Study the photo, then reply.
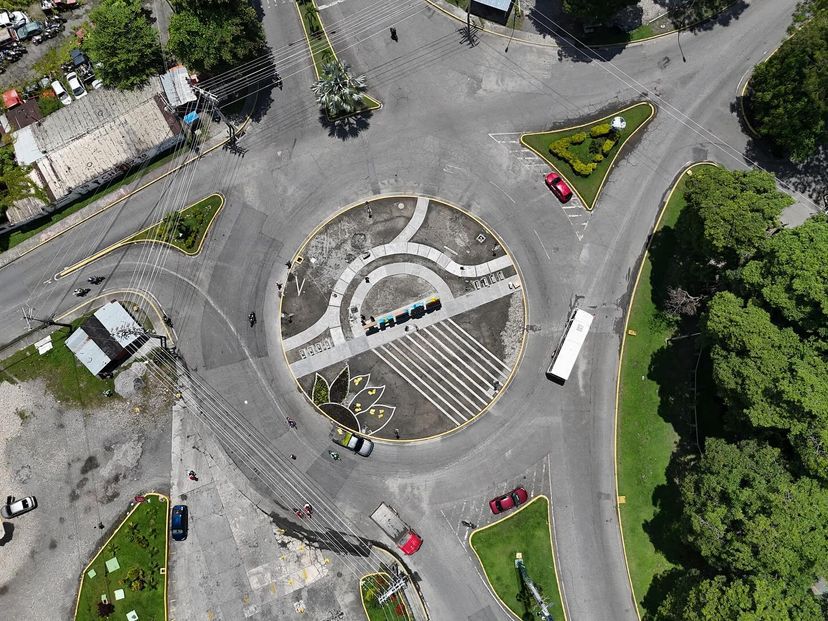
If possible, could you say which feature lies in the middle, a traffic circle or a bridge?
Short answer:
traffic circle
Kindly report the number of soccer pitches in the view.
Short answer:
zero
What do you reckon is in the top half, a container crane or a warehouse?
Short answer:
warehouse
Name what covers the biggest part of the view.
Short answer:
paved ground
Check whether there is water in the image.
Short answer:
No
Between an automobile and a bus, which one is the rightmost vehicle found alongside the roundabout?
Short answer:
bus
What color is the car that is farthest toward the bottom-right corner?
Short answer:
red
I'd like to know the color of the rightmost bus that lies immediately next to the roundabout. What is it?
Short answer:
white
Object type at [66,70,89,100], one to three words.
car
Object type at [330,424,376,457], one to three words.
truck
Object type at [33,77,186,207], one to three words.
warehouse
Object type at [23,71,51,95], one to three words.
car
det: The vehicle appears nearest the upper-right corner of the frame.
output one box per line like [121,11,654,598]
[544,174,572,204]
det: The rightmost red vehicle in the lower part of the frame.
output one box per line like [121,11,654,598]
[488,487,529,513]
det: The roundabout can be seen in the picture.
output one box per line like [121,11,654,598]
[279,198,527,446]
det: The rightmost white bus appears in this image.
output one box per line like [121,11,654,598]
[544,308,595,382]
